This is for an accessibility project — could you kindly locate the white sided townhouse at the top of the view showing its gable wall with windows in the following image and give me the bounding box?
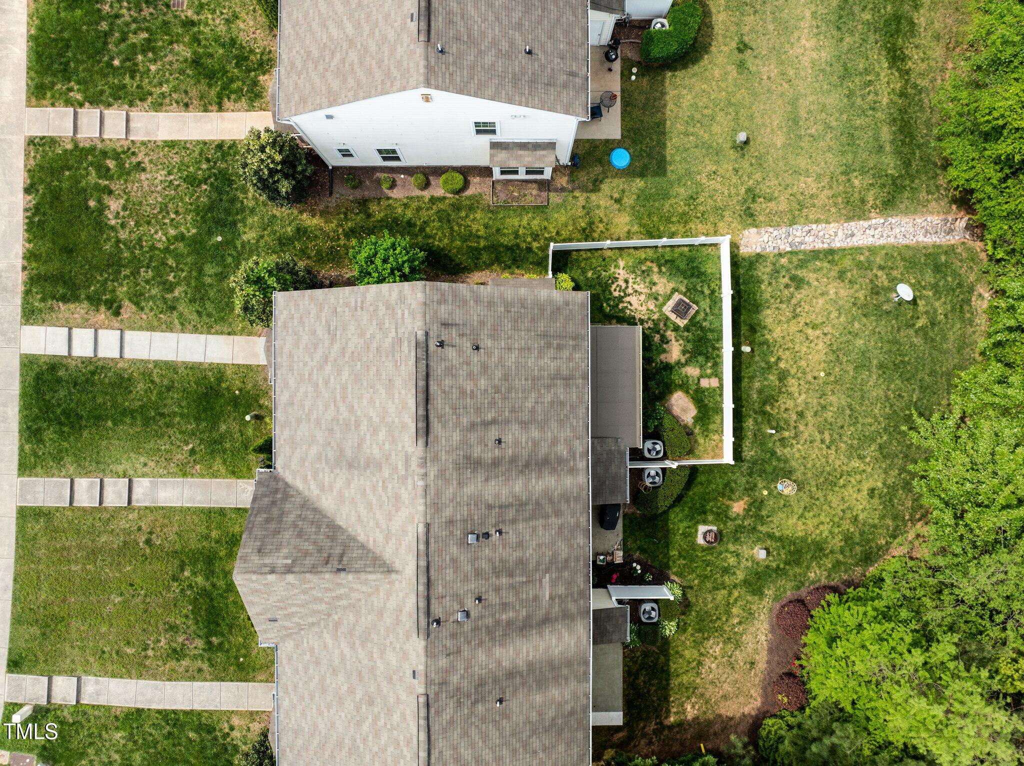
[268,0,631,180]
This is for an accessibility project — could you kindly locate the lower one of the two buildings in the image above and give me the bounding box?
[232,279,642,766]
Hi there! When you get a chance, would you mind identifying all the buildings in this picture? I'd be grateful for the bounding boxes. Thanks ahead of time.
[268,0,631,180]
[232,279,642,766]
